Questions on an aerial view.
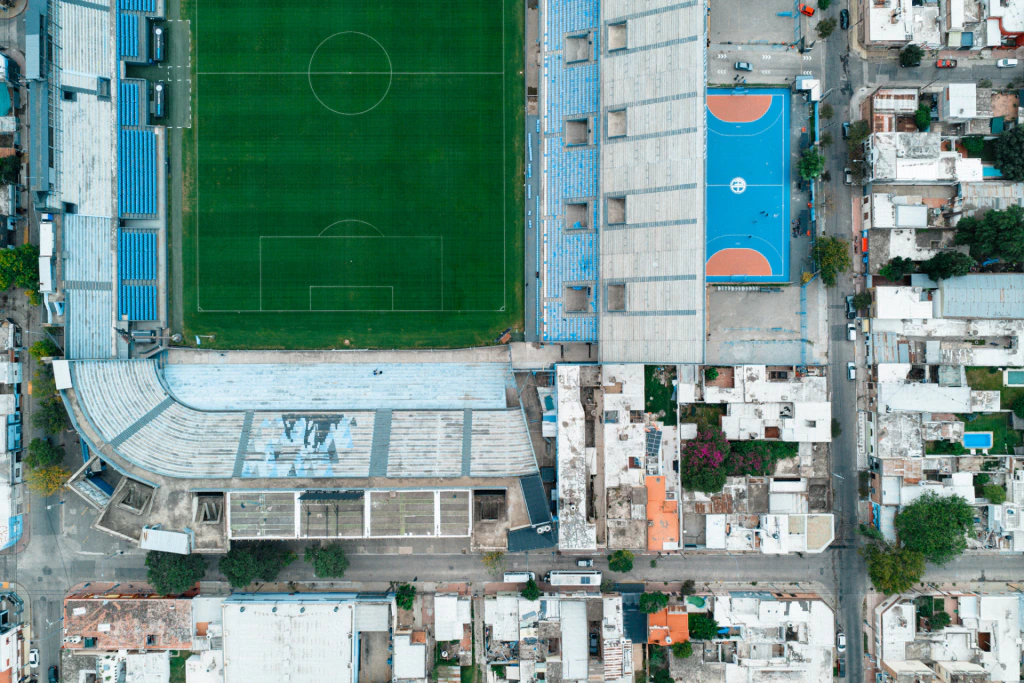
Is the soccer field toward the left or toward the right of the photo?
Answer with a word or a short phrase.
left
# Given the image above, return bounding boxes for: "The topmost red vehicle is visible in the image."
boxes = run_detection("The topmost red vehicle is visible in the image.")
[796,3,816,18]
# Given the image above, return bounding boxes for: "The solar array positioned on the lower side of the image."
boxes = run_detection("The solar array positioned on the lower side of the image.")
[645,426,661,457]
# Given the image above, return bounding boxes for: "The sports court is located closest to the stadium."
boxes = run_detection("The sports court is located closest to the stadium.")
[707,88,790,282]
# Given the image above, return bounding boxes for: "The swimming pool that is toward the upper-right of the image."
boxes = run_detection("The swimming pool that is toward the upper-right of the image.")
[982,162,1006,179]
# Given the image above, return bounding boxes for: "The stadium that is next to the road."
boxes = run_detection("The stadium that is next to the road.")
[25,0,709,553]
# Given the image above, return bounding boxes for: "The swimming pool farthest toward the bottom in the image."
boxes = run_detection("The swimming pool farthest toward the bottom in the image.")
[685,596,709,612]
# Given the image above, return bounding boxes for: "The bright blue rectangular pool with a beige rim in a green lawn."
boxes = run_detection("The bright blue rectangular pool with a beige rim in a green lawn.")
[963,432,994,450]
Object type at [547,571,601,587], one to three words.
vehicle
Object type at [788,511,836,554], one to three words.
house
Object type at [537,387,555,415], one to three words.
shed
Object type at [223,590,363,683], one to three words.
building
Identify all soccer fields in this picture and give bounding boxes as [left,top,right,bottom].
[146,0,525,352]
